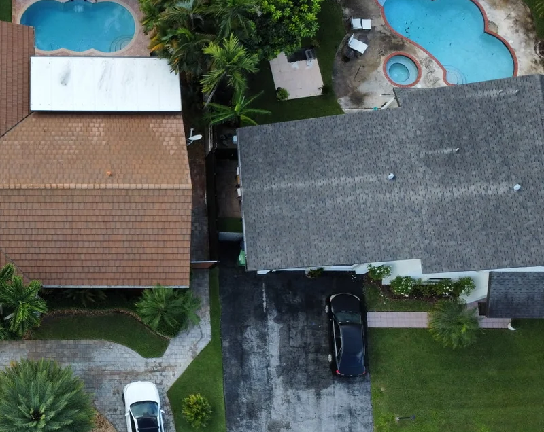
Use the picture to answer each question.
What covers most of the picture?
buildings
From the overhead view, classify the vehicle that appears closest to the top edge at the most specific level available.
automobile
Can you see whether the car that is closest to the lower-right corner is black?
Yes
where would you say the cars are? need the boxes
[123,380,168,432]
[323,293,371,378]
